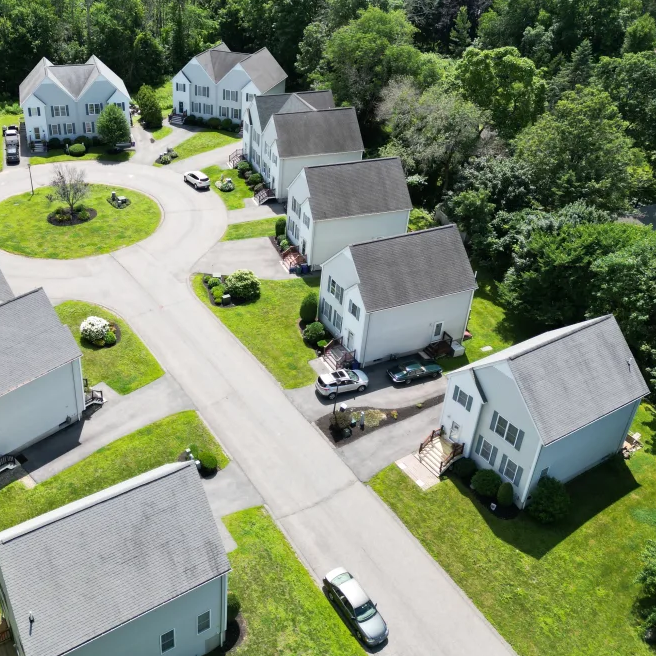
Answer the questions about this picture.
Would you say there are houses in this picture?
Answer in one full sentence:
Yes, the picture does show a house.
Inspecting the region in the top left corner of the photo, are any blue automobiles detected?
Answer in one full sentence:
No, looking in the top left corner of the photo, there is no blue automobile.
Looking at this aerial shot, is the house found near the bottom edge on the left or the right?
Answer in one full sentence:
The house found near the bottom edge is on the left side of the image.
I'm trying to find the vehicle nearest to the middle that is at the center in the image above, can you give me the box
[313,364,371,397]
